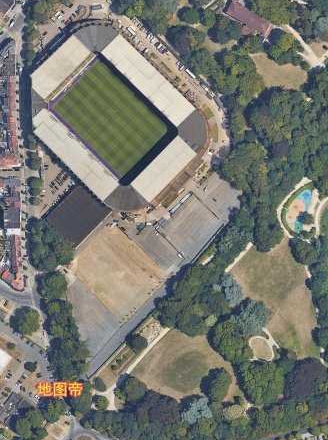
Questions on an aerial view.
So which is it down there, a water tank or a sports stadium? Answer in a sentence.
This aerial view contains a sports stadium.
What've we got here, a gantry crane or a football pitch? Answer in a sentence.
Of the two, only a football pitch appears.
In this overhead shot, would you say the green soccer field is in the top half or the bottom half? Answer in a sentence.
The green soccer field is in the top half of the image.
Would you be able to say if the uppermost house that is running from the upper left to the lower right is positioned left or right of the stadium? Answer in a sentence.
In the image, the uppermost house that is running from the upper left to the lower right sits on the right side of the stadium.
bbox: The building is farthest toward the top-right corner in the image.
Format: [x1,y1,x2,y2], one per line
[224,0,272,37]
